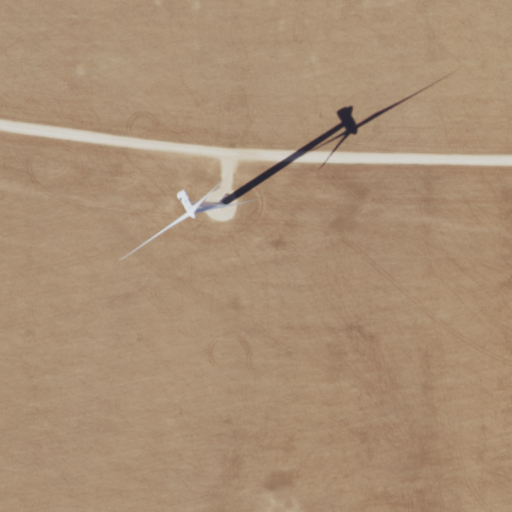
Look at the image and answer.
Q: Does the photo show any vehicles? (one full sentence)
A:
No, there's no vehicle here.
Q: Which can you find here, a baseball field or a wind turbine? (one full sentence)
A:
There is a wind turbine in the scene.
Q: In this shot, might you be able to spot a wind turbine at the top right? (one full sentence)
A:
No, I see no wind turbine at the top right.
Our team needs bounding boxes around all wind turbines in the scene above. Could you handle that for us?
[118,182,257,260]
